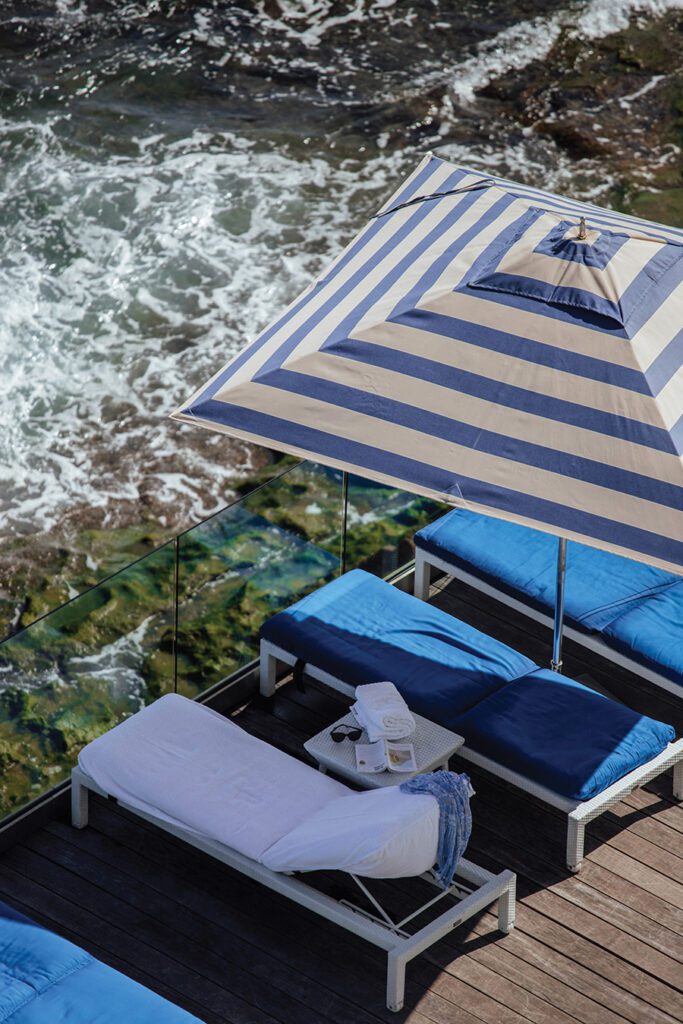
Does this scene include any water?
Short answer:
Yes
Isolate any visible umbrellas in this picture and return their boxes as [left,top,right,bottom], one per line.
[168,153,683,696]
